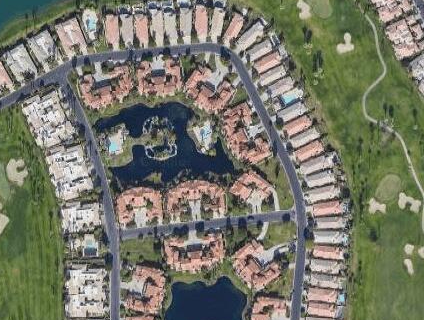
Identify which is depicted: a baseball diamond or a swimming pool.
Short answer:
swimming pool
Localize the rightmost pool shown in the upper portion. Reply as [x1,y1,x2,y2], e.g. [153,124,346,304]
[277,90,302,107]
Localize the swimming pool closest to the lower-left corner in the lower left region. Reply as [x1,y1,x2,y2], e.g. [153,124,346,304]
[82,234,98,257]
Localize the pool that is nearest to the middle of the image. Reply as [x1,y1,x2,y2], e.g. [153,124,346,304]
[195,122,212,150]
